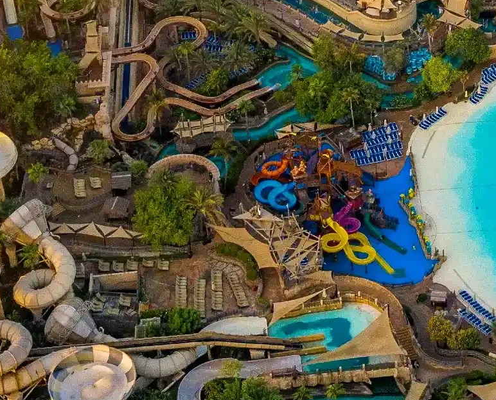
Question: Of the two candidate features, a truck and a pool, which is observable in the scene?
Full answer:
Of the two, only a pool appears.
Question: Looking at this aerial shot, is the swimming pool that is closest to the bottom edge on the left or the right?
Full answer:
You can find the swimming pool that is closest to the bottom edge on the right side of the picture.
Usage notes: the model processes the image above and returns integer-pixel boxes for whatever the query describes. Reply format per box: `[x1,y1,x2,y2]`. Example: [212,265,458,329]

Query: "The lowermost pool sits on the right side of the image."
[272,302,382,367]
